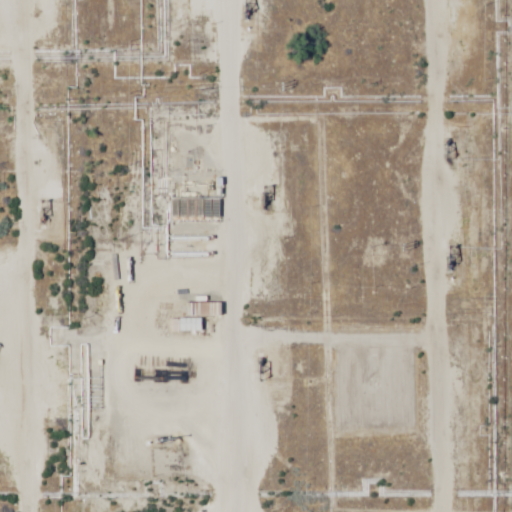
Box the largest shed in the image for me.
[172,198,220,220]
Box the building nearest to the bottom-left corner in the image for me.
[171,318,202,335]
